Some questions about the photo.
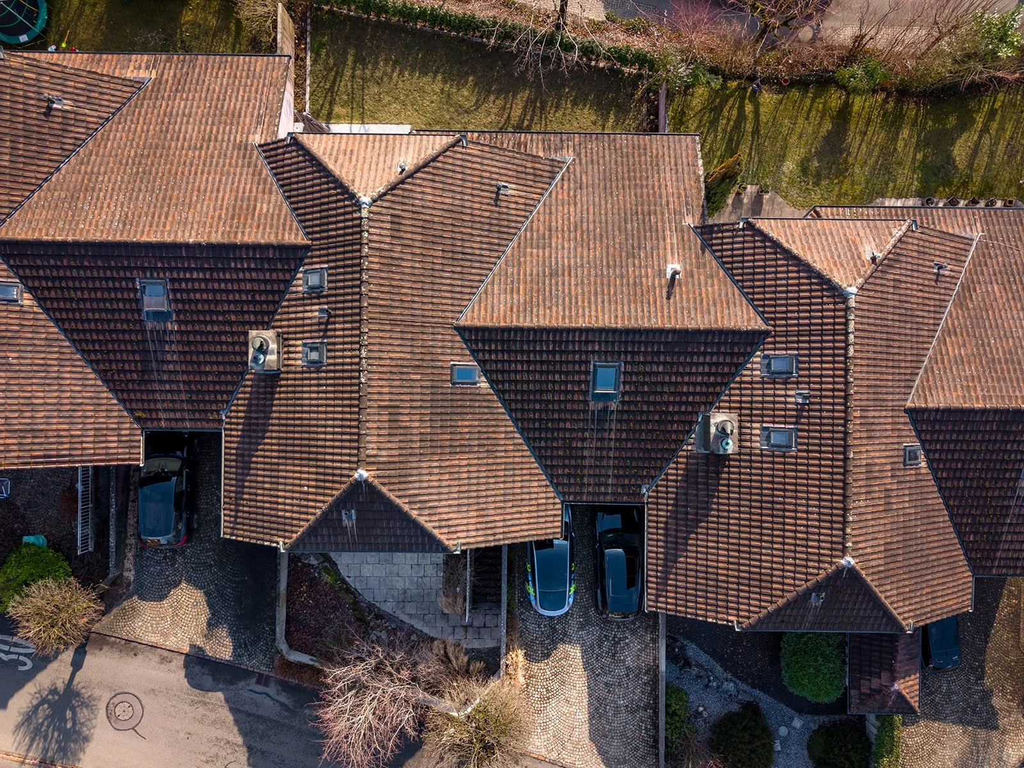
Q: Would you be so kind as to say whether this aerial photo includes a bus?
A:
No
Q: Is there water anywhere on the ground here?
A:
No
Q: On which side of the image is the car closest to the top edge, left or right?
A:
left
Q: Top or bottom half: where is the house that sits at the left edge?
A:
top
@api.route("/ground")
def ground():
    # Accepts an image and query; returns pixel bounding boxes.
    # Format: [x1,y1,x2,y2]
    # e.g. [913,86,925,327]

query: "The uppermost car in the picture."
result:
[136,434,200,546]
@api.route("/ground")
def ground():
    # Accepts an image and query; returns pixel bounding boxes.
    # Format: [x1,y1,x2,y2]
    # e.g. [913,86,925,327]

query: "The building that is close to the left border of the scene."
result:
[0,47,306,476]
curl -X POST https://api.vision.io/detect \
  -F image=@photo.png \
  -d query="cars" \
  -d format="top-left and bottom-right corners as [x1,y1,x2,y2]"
[923,617,968,670]
[528,510,582,615]
[593,508,643,619]
[136,434,200,546]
